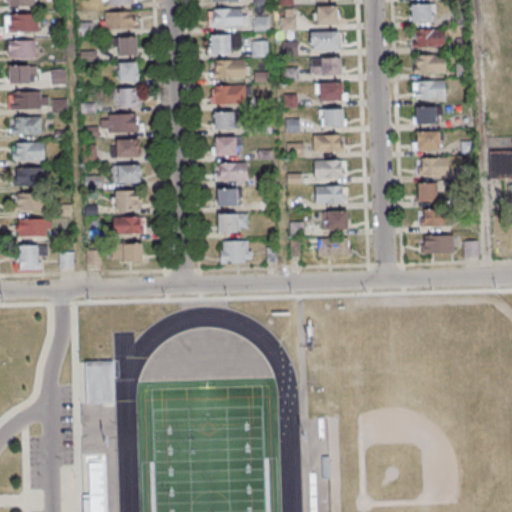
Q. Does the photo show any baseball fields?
Yes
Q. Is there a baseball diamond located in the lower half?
Yes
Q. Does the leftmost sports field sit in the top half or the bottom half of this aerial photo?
bottom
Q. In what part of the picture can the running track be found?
bottom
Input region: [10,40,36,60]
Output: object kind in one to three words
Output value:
house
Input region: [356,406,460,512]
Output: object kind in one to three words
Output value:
baseball field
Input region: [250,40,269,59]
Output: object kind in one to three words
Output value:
building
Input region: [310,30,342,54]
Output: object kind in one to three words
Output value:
house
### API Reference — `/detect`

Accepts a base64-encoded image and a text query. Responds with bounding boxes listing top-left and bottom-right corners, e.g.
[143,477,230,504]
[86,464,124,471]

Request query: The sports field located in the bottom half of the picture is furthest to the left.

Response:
[138,378,283,512]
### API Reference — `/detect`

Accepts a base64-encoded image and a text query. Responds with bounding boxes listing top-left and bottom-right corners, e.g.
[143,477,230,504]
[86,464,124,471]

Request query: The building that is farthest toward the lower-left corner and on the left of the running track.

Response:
[84,360,116,408]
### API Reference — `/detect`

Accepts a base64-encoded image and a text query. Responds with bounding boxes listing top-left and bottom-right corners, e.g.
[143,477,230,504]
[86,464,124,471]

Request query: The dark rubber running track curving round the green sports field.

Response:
[114,308,304,512]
